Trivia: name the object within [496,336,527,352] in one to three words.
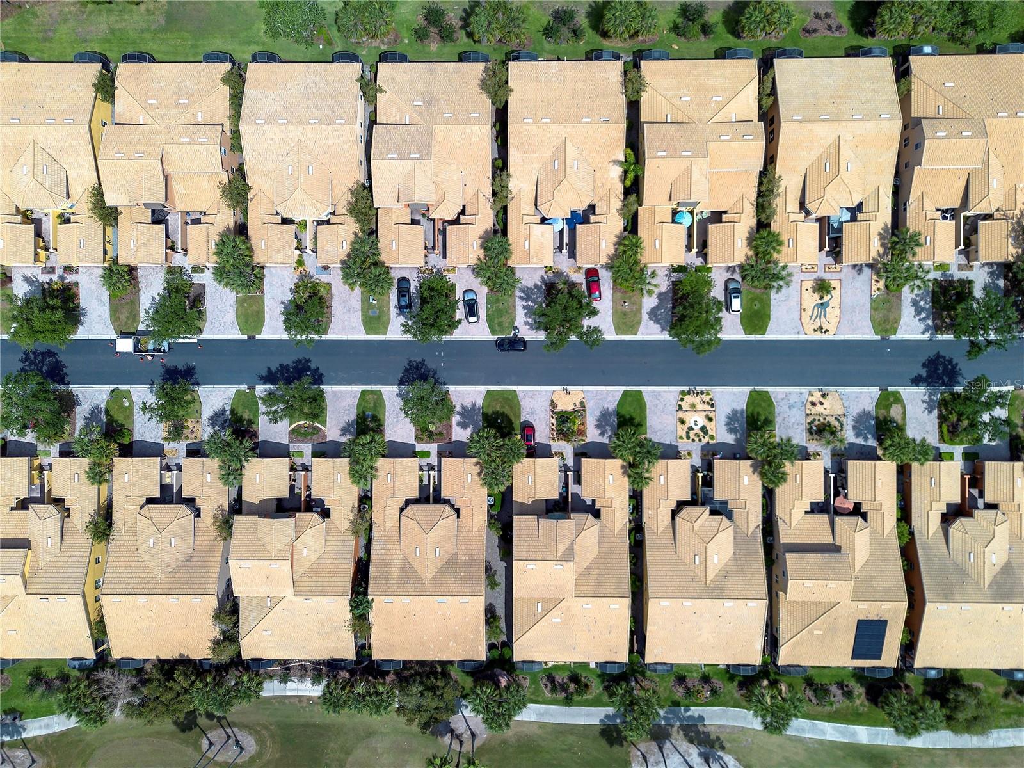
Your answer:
car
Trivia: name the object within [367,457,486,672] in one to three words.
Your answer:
house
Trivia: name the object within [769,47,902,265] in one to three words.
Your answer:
house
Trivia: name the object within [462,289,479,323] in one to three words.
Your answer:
car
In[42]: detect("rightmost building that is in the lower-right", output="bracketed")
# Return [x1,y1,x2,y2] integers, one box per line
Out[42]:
[904,462,1024,680]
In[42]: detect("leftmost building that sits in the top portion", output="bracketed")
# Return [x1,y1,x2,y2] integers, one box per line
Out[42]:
[0,52,111,267]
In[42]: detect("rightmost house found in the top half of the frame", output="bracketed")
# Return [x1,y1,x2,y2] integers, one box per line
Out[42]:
[900,45,1024,264]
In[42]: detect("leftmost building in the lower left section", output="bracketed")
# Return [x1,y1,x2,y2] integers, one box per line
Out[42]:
[0,456,105,670]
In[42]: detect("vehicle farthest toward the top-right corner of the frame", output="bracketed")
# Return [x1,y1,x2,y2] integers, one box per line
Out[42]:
[725,279,742,314]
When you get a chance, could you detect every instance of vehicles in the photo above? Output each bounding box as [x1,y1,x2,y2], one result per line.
[114,336,169,356]
[462,289,479,323]
[584,268,600,300]
[725,279,742,314]
[395,278,411,311]
[496,336,527,352]
[522,423,537,455]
